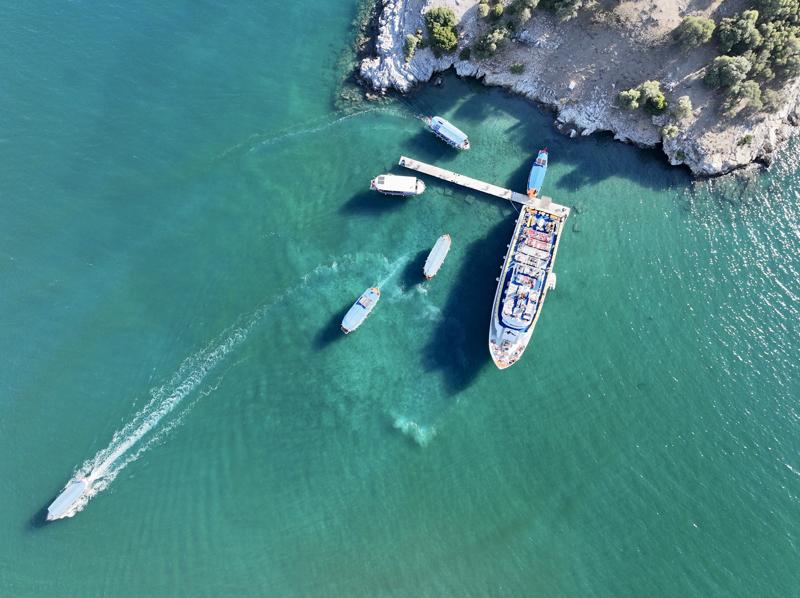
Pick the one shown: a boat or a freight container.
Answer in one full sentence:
There is a boat in the scene.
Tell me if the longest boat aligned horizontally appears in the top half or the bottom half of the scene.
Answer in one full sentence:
It is in the top half that the longest boat aligned horizontally appears.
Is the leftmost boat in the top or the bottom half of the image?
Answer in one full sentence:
It is in the bottom half that the leftmost boat appears.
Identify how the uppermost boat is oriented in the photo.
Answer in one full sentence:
The uppermost boat has been laid out on a diagonal relative to the frame.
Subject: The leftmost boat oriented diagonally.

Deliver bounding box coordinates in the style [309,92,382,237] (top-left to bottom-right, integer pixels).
[44,475,95,523]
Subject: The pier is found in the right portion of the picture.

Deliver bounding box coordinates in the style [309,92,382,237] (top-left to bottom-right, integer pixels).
[398,156,573,220]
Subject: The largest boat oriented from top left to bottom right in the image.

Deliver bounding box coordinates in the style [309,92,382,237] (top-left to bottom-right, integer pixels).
[423,113,471,149]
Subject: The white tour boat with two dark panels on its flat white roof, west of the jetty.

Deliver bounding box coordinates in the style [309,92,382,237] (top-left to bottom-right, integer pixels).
[368,175,427,196]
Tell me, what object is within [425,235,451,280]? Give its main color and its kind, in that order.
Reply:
white boat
